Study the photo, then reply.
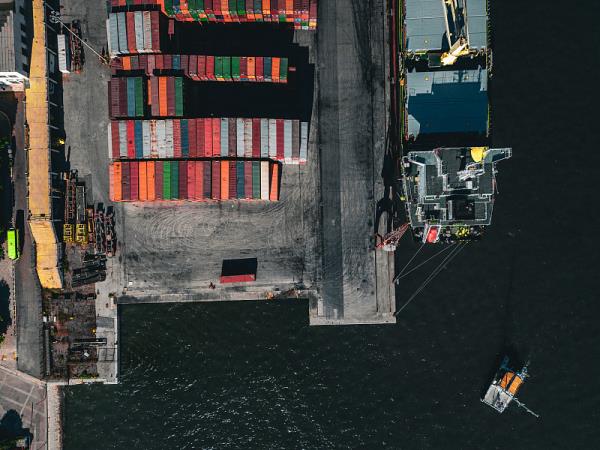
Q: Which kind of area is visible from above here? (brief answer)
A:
port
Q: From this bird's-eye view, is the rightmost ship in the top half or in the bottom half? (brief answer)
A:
bottom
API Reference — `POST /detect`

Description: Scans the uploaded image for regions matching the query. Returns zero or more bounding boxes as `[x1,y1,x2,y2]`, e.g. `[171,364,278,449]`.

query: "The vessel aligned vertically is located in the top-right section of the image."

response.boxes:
[391,0,514,244]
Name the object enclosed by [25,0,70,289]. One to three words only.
building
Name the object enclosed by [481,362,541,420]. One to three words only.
ship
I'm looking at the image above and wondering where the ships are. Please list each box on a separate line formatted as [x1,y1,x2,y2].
[391,0,514,244]
[481,362,541,420]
